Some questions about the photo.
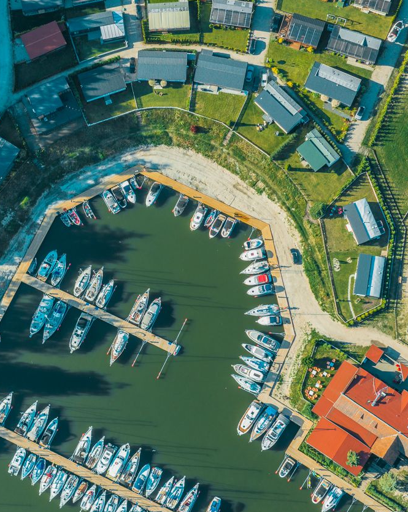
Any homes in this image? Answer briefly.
Yes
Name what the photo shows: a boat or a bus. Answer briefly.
boat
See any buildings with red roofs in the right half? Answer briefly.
Yes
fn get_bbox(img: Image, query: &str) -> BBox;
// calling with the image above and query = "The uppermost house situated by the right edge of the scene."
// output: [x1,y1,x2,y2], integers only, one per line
[351,0,392,20]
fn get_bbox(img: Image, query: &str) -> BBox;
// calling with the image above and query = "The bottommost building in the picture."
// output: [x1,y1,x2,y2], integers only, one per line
[306,360,408,475]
